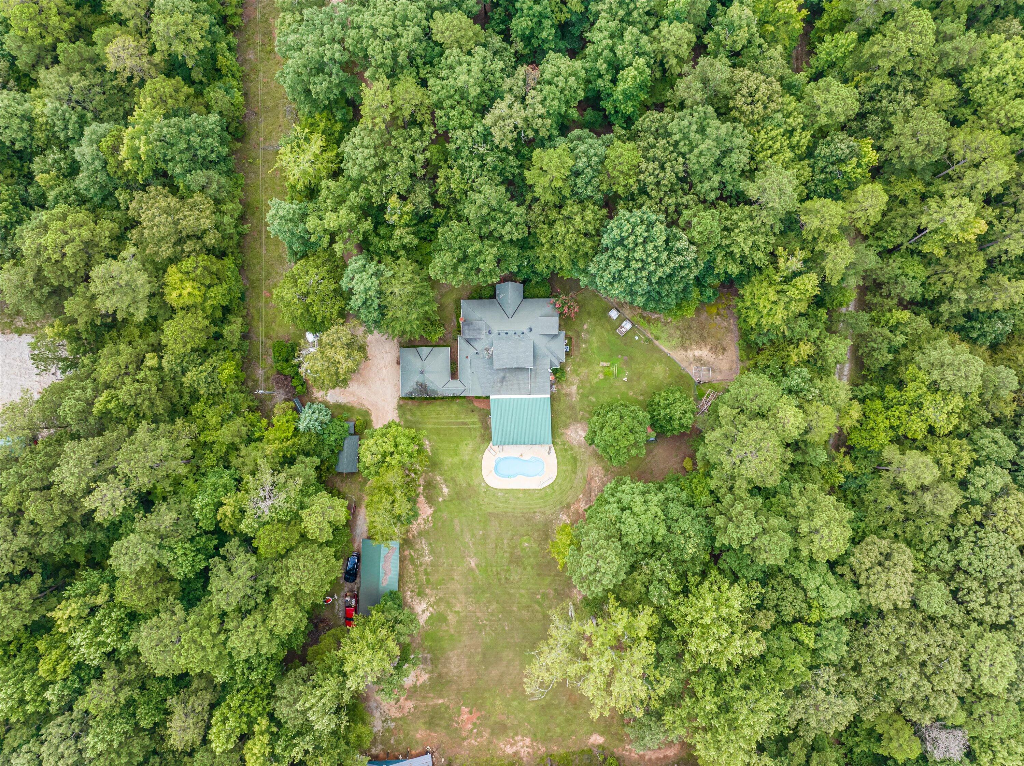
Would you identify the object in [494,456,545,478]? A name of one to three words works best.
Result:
swimming pool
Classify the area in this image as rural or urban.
rural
